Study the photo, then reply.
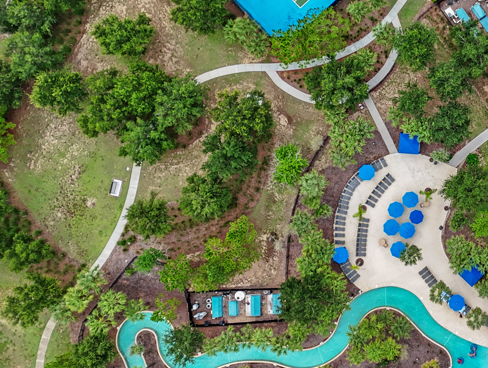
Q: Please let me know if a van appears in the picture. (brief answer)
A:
No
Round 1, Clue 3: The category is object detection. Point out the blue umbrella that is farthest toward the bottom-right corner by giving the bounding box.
[448,293,465,311]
